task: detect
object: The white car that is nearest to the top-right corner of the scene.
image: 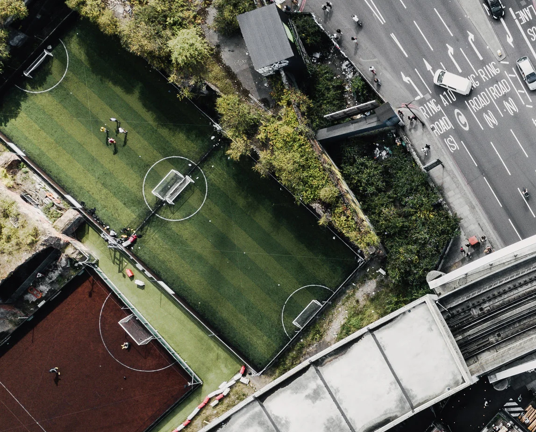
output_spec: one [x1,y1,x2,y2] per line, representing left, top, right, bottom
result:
[515,52,536,95]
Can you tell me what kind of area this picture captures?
sports ground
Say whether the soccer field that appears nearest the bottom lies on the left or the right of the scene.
left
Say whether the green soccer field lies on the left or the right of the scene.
left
